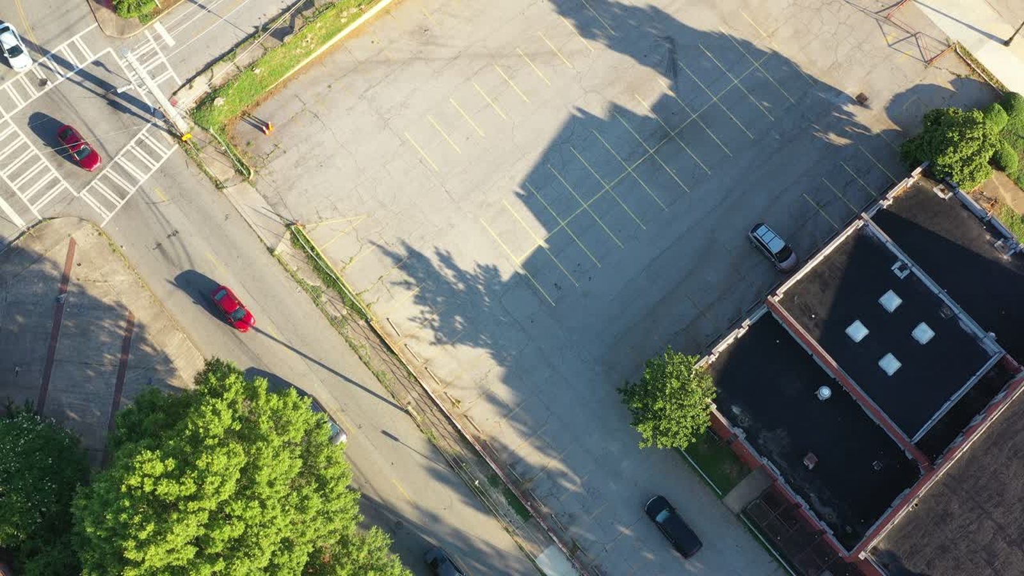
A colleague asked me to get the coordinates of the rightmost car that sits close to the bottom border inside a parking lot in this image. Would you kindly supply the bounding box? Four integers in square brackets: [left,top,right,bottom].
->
[646,495,706,560]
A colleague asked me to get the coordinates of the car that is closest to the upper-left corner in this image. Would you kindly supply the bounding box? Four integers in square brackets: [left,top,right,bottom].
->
[0,17,28,67]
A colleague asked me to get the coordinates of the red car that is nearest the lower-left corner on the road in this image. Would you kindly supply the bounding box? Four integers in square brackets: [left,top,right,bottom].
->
[208,281,255,333]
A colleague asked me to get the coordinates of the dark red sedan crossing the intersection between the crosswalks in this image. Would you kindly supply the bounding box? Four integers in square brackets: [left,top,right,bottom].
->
[53,121,99,169]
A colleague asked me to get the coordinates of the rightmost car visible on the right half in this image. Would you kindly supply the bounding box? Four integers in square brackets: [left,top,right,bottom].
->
[751,219,799,272]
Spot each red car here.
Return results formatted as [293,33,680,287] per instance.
[208,281,255,333]
[53,121,99,169]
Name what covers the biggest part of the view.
paved ground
